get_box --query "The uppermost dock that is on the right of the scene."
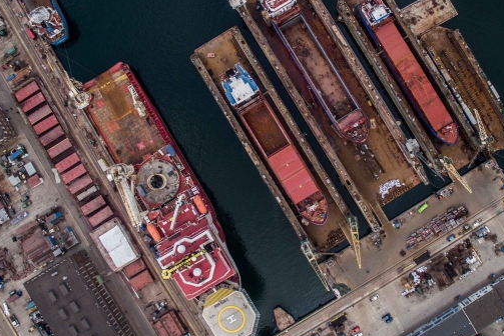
[401,0,458,39]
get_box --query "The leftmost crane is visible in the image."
[62,69,88,106]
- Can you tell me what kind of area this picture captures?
port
